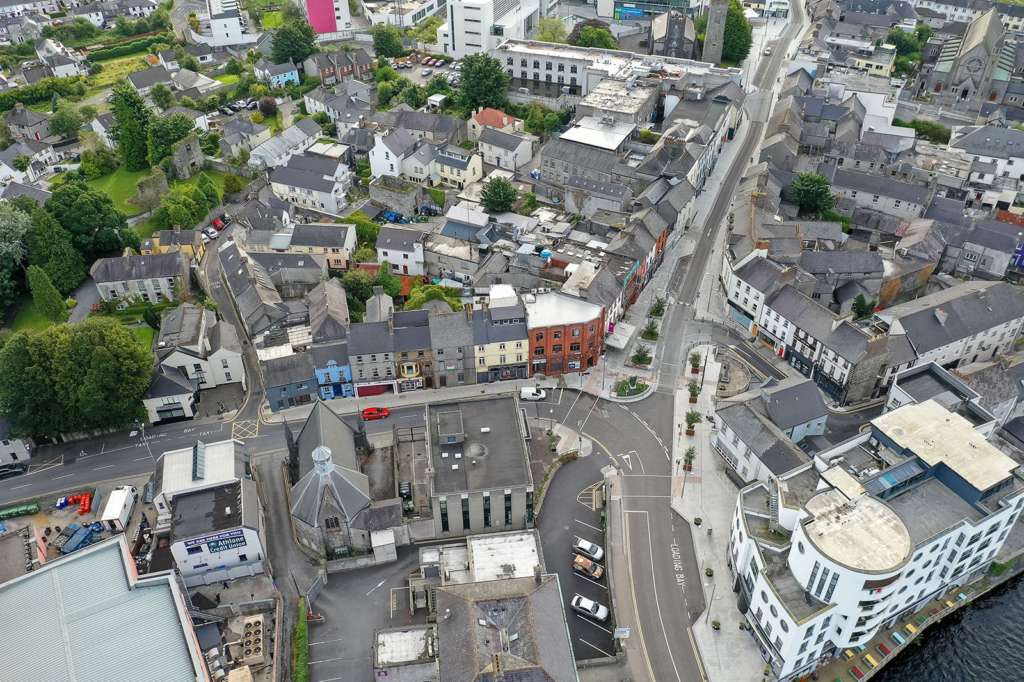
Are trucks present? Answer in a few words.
Yes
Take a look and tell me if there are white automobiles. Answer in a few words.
Yes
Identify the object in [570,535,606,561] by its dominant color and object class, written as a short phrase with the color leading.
white car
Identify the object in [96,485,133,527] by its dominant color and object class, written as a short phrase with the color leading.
white truck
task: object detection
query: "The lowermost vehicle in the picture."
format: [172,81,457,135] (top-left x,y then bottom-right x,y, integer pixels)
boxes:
[569,592,610,621]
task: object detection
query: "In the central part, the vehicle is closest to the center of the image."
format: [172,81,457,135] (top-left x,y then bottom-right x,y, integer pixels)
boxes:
[520,385,546,400]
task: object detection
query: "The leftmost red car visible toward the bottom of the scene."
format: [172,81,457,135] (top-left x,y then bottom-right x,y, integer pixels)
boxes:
[361,405,389,420]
